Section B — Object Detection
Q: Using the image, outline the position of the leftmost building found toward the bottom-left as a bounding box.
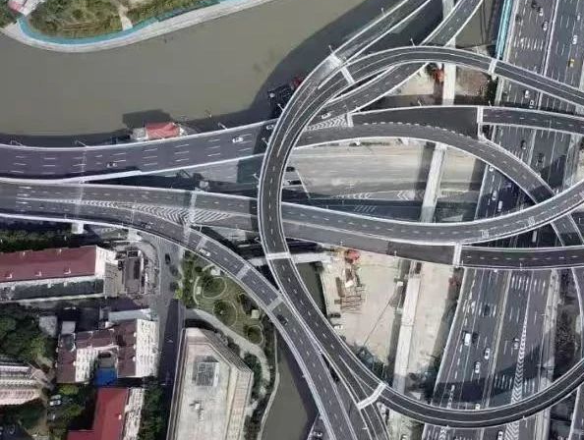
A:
[0,364,47,401]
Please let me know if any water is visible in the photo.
Yes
